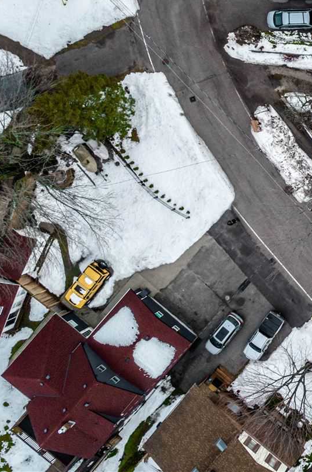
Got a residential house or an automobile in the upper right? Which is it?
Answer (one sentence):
The one visible in the upper right is an automobile.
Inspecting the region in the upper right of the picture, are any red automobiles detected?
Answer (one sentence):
No, no red automobile appears in the upper right of the picture.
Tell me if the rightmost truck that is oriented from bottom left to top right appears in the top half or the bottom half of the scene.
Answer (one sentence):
The rightmost truck that is oriented from bottom left to top right sits in the bottom half of the picture.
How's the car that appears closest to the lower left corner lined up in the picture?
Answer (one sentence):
I'd say the car that appears closest to the lower left corner is aligned at an angle in the picture.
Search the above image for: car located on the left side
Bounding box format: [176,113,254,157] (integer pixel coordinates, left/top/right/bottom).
[62,260,106,311]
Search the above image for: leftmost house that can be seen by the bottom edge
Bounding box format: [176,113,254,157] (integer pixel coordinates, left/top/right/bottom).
[0,288,197,472]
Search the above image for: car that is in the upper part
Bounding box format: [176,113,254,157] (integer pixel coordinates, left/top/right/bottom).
[265,8,312,31]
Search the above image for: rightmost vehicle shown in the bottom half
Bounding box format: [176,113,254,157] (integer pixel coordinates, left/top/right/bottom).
[237,307,289,366]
